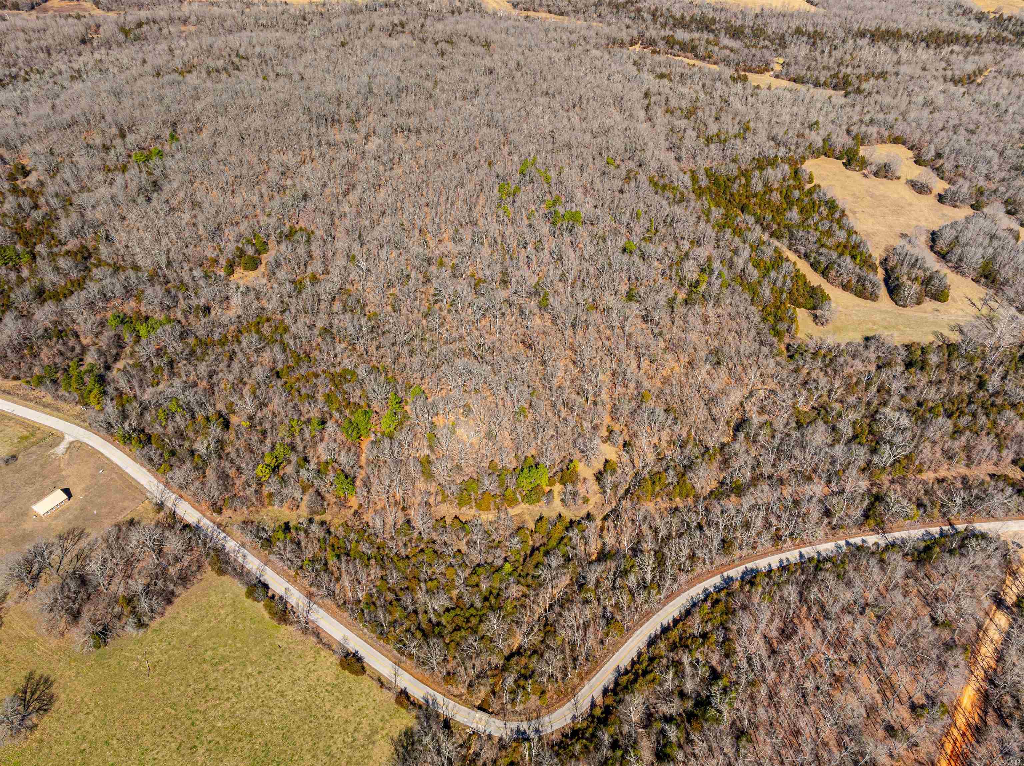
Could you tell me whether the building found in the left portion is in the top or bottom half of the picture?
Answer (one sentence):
The building found in the left portion sits in the bottom half of the picture.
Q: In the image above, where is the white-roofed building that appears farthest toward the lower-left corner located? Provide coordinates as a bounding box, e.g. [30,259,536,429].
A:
[34,489,71,519]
